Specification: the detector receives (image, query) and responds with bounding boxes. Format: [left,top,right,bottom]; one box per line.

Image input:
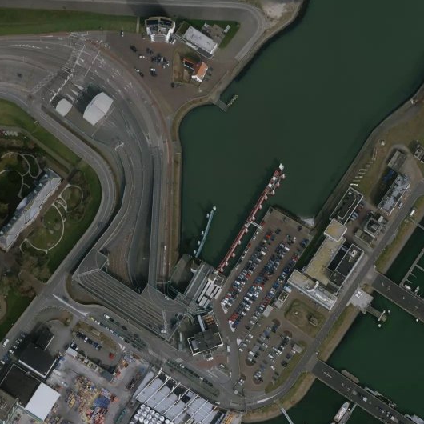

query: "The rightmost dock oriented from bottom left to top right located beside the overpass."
[217,165,285,271]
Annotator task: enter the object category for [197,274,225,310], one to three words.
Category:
building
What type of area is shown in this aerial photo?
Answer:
port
